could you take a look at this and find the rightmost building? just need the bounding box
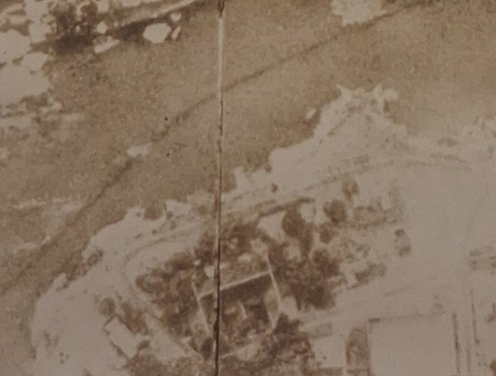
[369,314,458,376]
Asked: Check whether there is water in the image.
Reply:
Yes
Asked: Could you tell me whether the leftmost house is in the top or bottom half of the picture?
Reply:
bottom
